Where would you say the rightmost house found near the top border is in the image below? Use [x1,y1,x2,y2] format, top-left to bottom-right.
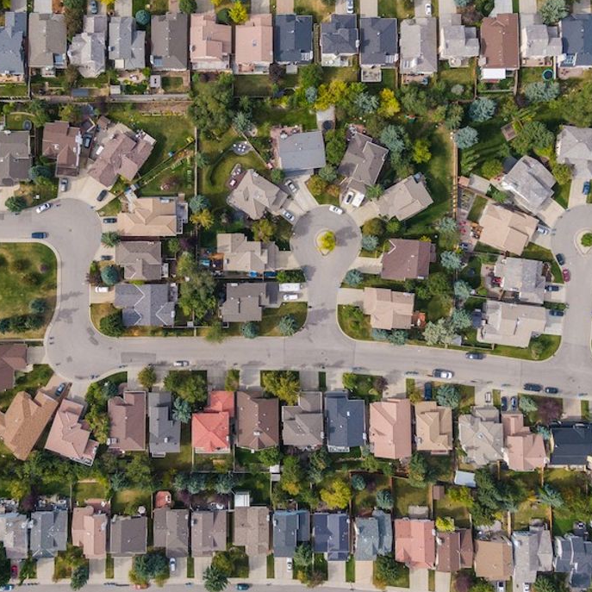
[552,12,592,78]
